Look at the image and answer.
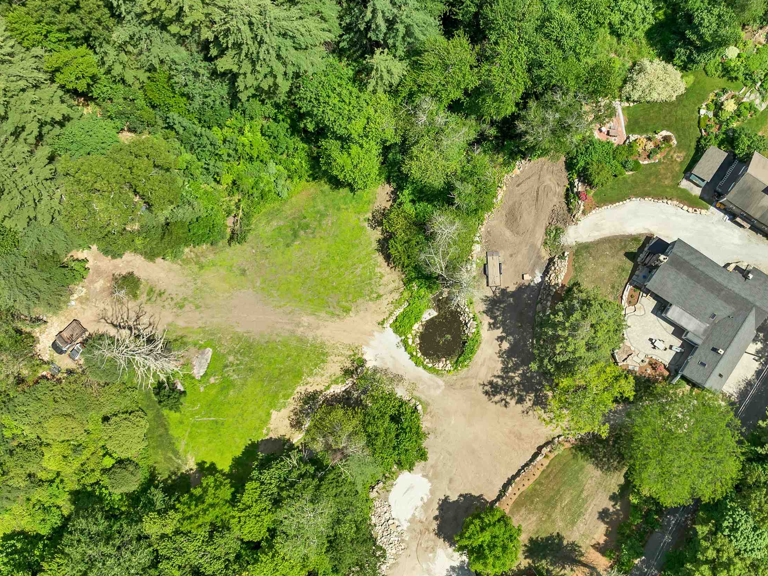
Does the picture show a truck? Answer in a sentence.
Yes, a truck can be made out from above.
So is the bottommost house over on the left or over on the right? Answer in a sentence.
The bottommost house is on the right side of the image.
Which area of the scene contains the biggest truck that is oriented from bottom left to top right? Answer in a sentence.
The biggest truck that is oriented from bottom left to top right sits in the left section of the image.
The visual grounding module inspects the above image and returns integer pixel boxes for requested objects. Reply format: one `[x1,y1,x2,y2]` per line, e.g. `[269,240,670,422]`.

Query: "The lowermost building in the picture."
[645,238,768,391]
